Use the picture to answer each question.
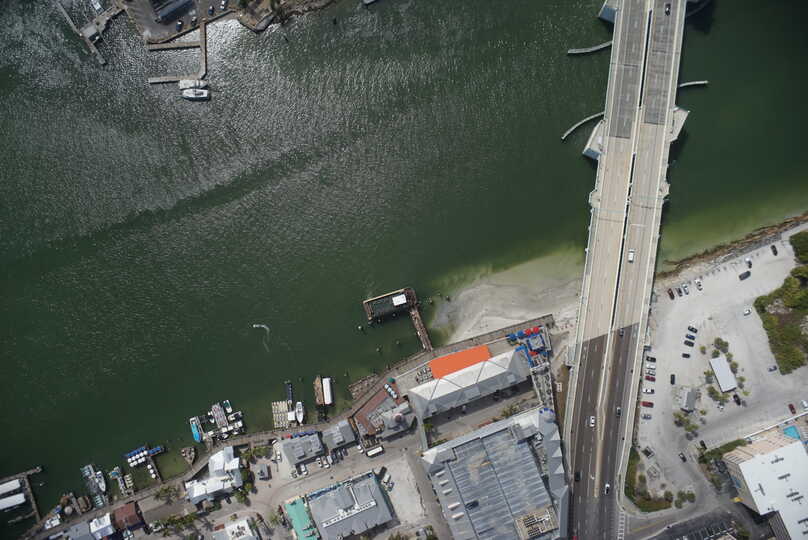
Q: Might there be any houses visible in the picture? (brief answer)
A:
Yes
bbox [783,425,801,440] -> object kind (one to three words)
swimming pool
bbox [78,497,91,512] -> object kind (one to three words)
boat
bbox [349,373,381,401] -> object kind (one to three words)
pier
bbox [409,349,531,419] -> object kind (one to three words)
building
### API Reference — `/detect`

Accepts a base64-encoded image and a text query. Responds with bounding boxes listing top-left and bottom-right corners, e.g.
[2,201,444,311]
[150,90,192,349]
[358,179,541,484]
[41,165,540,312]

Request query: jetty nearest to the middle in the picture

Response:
[363,287,432,351]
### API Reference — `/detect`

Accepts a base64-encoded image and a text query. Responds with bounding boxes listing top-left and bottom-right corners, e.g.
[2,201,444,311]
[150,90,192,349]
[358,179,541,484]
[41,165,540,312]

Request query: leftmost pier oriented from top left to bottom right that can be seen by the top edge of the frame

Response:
[55,0,107,66]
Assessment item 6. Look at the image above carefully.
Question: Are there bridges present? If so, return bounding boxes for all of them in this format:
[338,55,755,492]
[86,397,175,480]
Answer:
[560,0,709,338]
